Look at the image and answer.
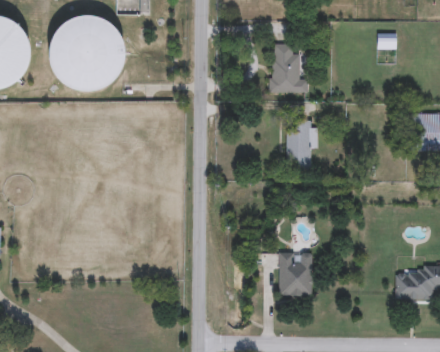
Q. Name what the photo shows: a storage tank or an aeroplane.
storage tank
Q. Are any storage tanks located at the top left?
Yes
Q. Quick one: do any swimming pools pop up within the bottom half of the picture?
Yes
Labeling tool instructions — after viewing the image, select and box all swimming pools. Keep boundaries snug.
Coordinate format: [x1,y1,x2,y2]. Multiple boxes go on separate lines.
[402,226,431,245]
[292,218,318,252]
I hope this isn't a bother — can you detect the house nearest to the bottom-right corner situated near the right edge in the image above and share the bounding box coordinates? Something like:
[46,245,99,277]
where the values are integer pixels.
[396,264,440,299]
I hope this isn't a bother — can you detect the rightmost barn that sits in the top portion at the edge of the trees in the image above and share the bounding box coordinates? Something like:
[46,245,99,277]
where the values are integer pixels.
[418,114,440,152]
